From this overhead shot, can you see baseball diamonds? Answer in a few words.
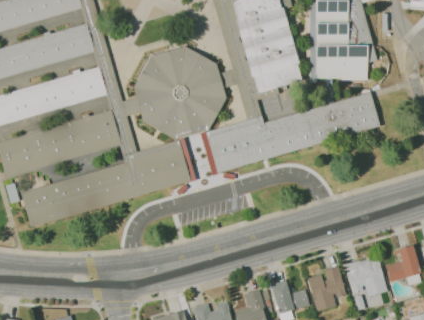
No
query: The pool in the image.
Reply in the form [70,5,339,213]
[392,280,415,298]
